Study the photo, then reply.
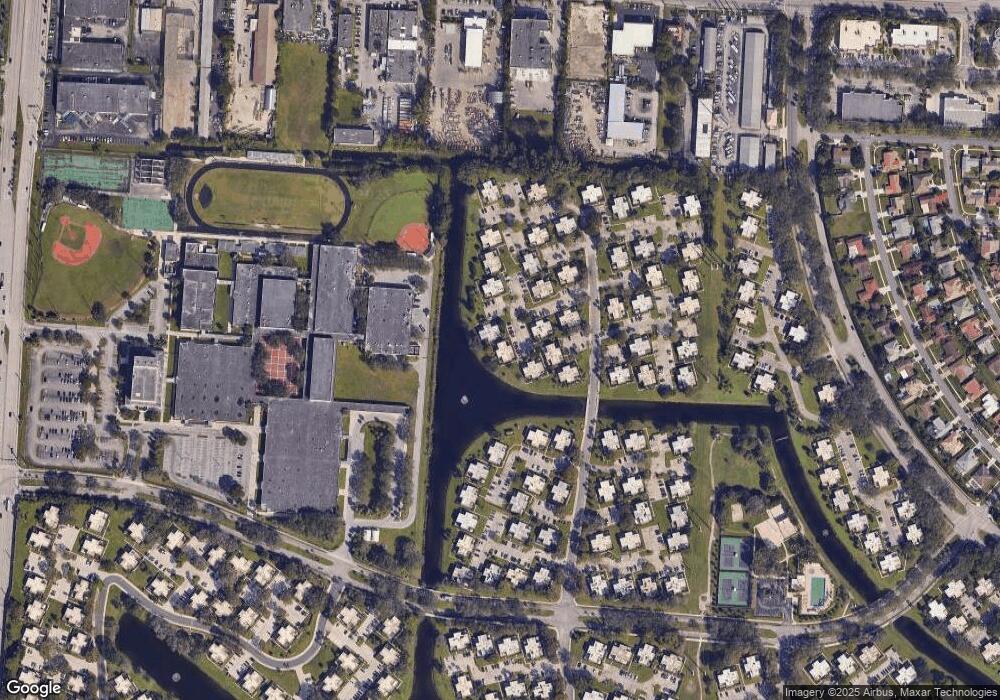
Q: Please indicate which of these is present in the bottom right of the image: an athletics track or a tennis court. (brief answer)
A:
tennis court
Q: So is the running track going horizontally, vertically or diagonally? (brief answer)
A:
horizontally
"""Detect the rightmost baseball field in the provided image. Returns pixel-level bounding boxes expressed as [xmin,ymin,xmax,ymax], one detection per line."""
[365,190,430,255]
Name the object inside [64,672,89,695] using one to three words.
house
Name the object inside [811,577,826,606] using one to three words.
swimming pool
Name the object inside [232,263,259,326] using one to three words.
building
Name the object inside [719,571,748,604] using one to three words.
tennis court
